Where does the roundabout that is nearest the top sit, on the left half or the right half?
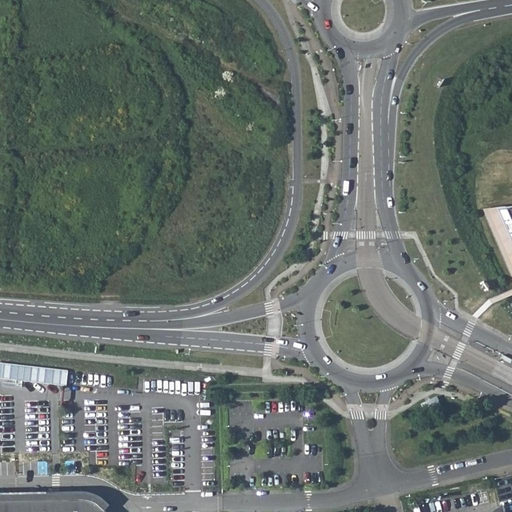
right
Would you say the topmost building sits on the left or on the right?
right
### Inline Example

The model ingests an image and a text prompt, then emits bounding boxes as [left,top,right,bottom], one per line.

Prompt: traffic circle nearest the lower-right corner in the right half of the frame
[297,250,439,392]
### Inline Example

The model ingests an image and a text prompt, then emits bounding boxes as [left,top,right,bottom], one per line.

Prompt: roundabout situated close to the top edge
[314,0,412,58]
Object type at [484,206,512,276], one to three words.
building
